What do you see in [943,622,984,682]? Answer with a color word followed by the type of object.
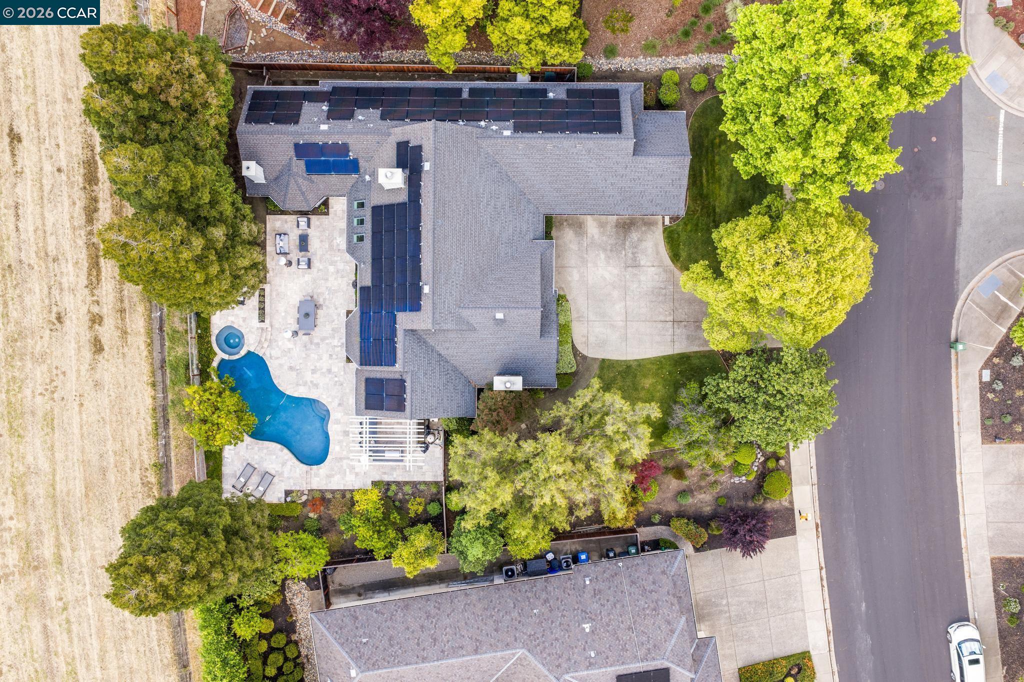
white car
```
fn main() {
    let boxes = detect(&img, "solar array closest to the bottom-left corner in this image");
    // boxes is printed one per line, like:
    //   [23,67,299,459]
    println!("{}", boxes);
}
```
[365,379,408,414]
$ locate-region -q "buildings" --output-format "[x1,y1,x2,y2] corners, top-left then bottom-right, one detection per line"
[236,79,691,420]
[309,544,725,682]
